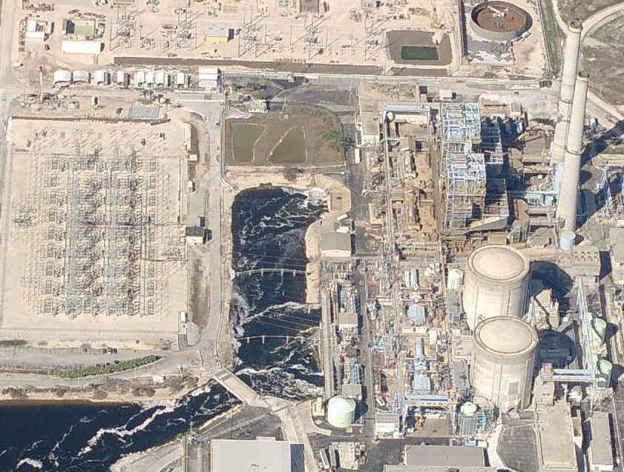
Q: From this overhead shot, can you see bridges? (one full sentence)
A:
Yes, a bridge appears in the view.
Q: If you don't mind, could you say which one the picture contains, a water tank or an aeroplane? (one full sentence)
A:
It is a water tank that can be seen here.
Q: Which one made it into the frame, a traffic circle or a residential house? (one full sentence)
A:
There is a residential house in the scene.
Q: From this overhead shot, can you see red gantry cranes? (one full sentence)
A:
No, there isn't any red gantry crane down there.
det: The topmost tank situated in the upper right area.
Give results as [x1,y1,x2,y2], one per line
[469,2,532,47]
